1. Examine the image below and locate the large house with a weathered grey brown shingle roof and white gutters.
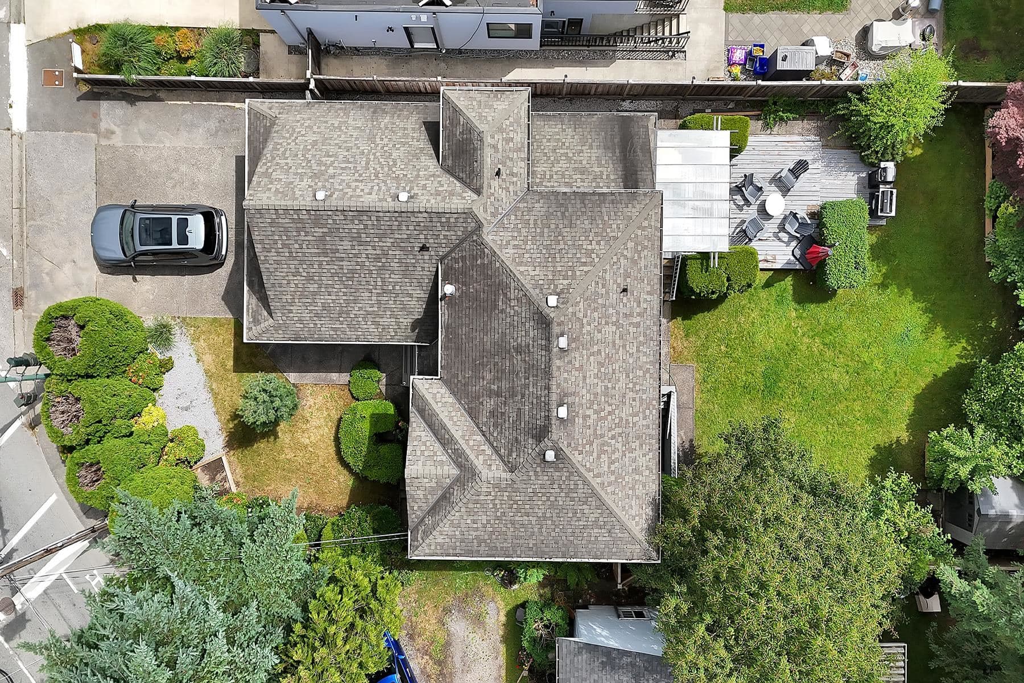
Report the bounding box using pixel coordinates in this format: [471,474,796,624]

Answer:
[241,83,667,565]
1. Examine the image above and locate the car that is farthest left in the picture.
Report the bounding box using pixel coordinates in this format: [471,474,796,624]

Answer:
[90,199,233,269]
